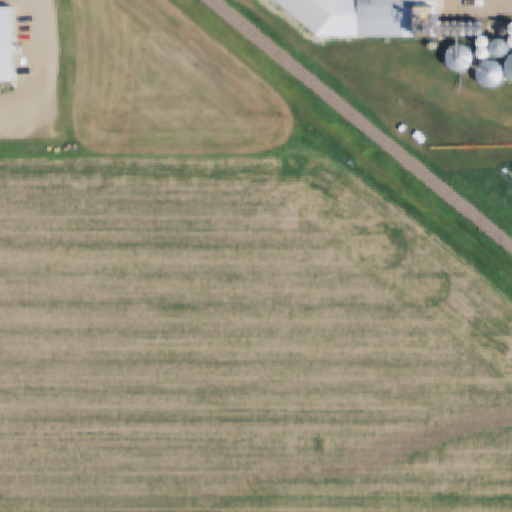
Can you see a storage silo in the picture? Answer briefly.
Yes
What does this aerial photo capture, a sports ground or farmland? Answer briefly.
farmland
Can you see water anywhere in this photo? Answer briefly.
No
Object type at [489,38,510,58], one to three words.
silo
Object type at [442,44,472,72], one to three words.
silo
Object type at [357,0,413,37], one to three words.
building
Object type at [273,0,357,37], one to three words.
shed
